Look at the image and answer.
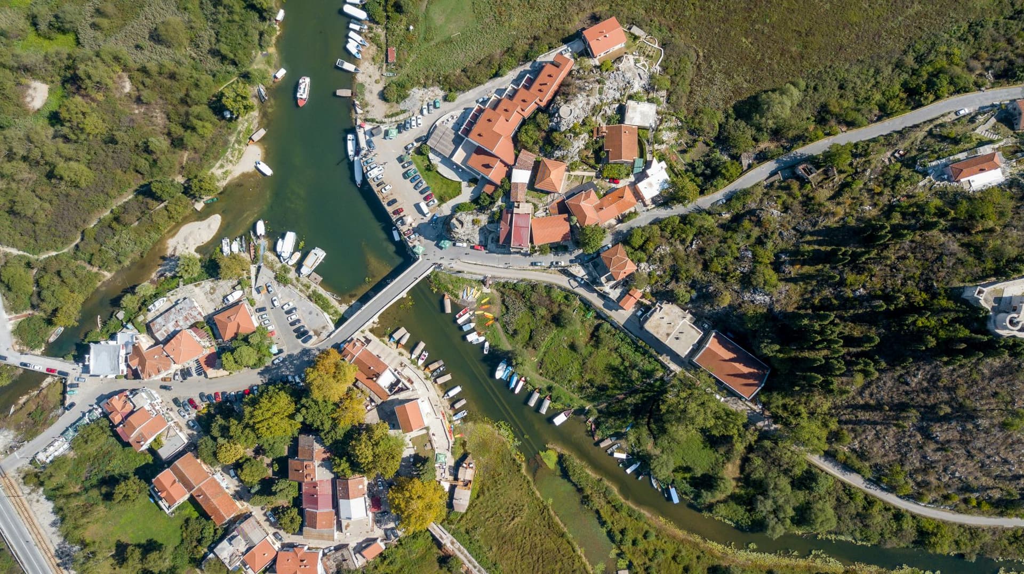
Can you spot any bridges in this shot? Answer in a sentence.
Yes, there's a bridge here.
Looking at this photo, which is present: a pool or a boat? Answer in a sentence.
Visible in the photo is a boat.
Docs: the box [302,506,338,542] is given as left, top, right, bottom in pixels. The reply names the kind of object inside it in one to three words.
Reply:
house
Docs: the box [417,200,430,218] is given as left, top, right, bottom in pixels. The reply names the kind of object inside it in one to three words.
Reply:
vehicle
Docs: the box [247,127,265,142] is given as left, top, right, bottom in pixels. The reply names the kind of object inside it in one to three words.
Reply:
boat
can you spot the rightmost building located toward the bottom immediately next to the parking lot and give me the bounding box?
[346,339,405,400]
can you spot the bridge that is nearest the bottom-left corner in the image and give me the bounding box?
[17,351,85,385]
